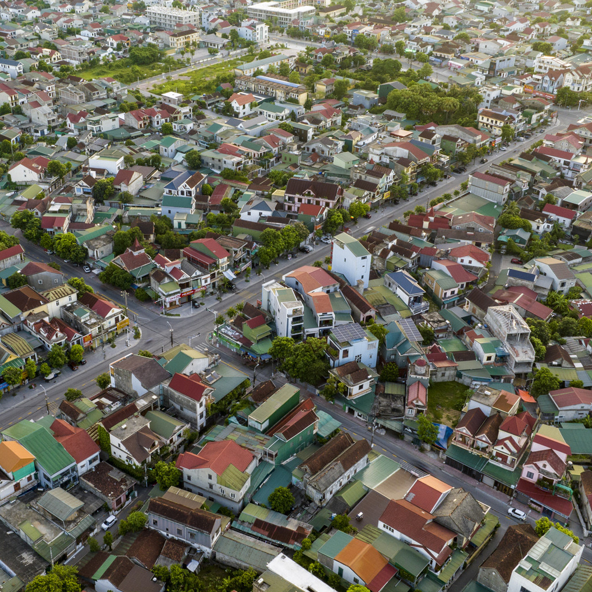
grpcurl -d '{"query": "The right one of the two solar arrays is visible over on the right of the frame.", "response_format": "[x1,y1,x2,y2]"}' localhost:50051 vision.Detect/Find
[403,318,423,345]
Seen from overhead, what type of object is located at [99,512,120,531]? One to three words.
car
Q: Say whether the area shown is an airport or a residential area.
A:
residential area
